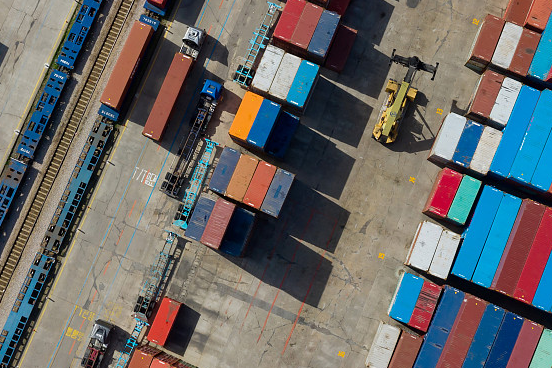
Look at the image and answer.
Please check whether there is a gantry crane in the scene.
No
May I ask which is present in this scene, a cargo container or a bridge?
cargo container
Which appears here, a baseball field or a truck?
truck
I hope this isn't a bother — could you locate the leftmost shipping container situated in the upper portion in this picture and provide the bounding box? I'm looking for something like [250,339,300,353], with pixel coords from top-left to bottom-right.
[102,21,157,111]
